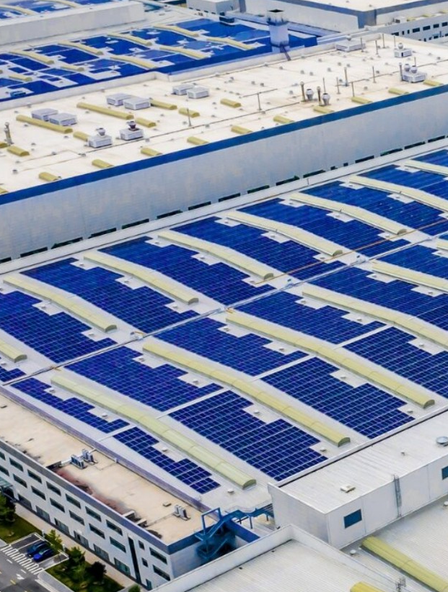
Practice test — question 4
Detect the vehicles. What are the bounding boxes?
[32,544,55,559]
[25,537,48,551]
